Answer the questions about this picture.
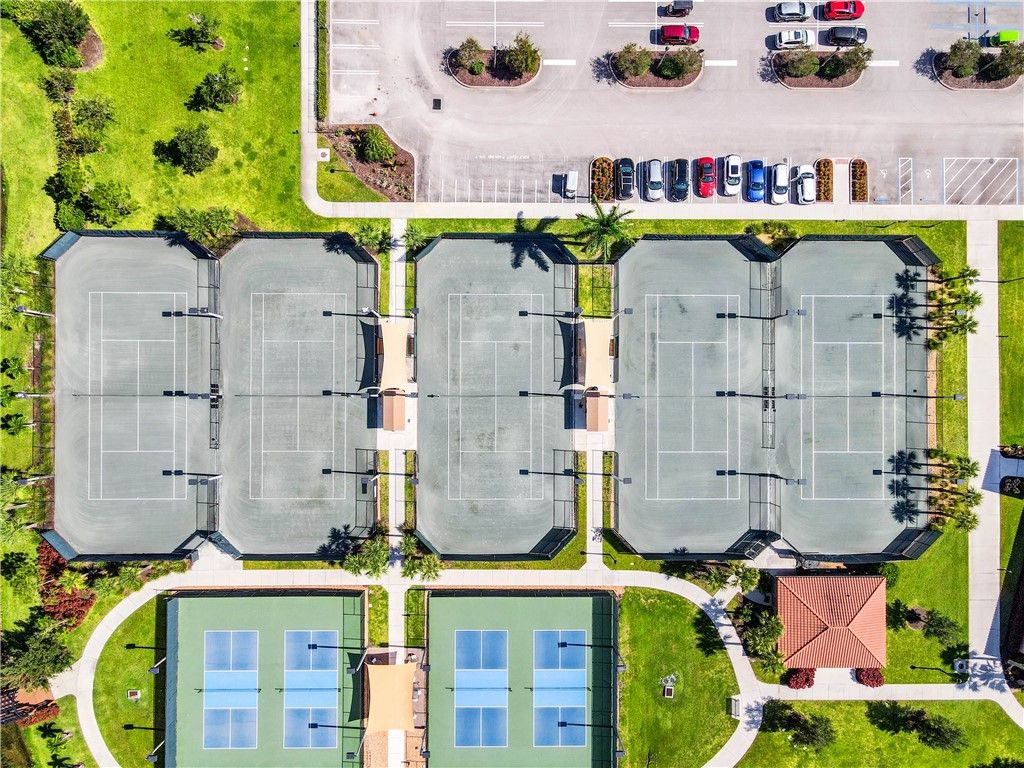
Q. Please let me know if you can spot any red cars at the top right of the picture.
Yes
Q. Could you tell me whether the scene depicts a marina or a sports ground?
sports ground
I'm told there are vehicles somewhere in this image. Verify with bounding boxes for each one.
[566,170,578,198]
[660,22,698,45]
[746,159,767,201]
[791,164,819,204]
[770,163,792,204]
[666,0,696,19]
[776,0,813,22]
[778,28,816,49]
[647,159,667,201]
[828,24,866,46]
[824,0,864,20]
[698,157,718,196]
[673,158,693,201]
[618,158,638,200]
[724,154,744,196]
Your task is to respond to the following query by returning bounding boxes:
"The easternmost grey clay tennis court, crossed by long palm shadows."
[770,241,927,554]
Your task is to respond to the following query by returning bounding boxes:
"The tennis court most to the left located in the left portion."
[54,237,219,554]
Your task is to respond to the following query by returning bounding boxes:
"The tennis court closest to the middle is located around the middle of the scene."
[416,239,577,554]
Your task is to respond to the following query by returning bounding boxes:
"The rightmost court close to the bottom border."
[521,597,612,768]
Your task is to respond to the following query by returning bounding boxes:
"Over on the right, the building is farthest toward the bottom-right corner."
[773,574,887,669]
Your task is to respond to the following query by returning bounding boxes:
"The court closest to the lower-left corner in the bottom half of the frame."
[178,597,272,768]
